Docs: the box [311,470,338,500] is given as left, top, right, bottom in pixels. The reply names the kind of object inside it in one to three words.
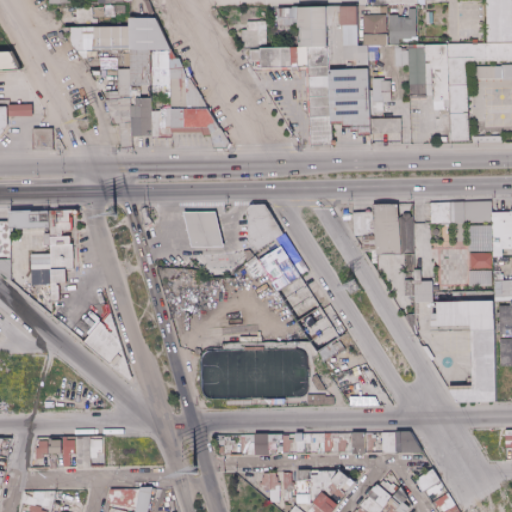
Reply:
house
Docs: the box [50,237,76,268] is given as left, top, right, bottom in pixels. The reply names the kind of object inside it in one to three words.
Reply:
house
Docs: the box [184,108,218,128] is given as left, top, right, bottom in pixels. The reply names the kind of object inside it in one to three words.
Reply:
building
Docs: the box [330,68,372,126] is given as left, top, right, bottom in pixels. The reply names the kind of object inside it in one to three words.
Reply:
building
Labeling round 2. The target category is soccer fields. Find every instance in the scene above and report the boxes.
[200,349,308,399]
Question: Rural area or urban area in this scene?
urban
